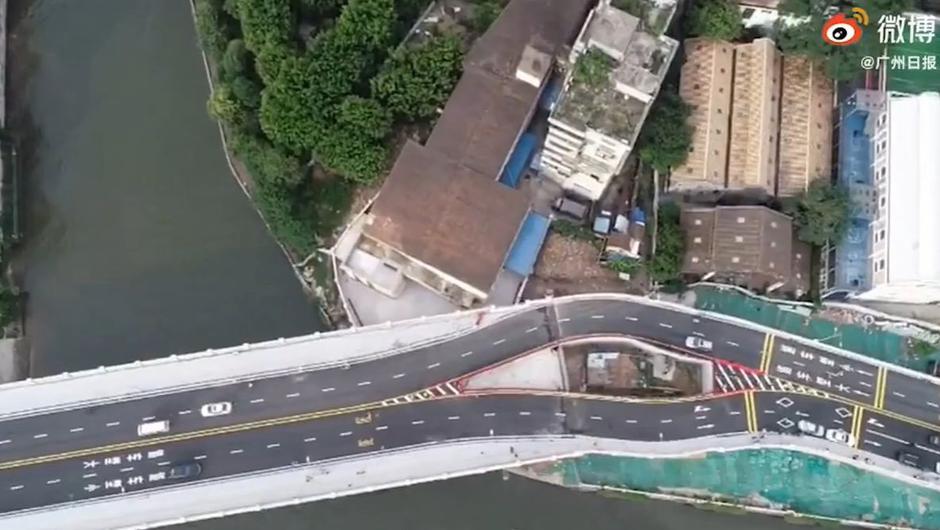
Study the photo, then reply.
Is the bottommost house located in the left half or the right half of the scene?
right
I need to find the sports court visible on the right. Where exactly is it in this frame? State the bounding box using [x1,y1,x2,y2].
[838,96,873,292]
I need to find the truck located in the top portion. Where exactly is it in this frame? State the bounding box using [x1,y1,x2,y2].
[554,196,592,220]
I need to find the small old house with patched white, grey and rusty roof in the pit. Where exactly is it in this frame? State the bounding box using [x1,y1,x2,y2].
[588,353,639,389]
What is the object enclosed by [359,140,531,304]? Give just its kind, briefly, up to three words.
building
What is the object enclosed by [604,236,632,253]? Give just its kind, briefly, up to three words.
shed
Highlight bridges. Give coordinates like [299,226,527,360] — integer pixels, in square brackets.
[0,293,940,530]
